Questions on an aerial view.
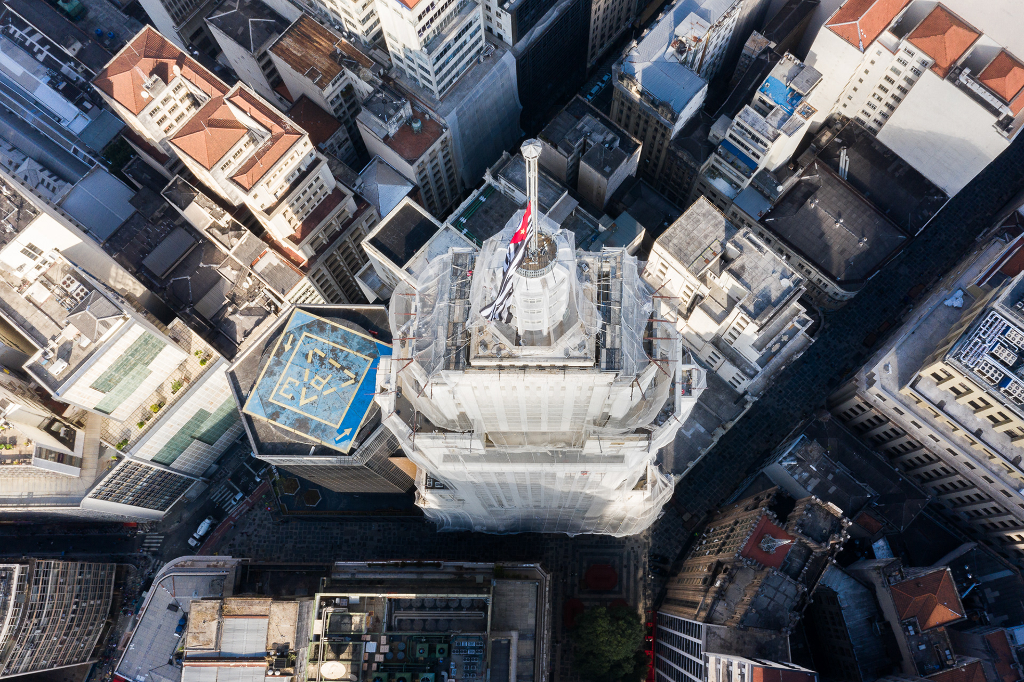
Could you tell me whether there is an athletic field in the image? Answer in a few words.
No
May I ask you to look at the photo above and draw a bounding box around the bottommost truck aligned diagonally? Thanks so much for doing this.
[185,513,213,545]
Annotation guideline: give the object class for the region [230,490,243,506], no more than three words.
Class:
vehicle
